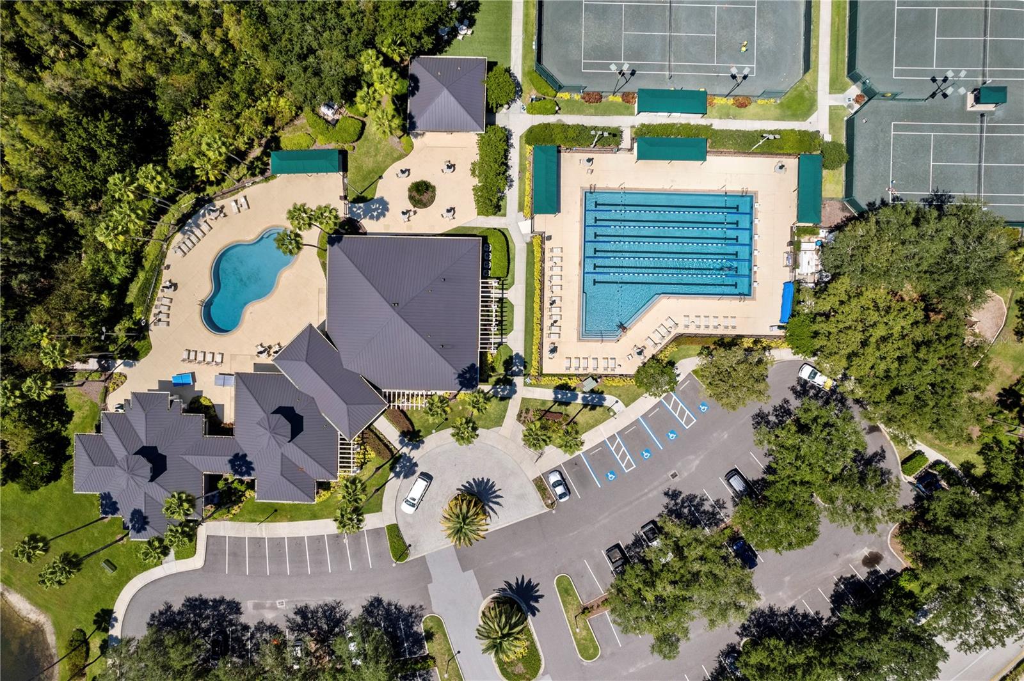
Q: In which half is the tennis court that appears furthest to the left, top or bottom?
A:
top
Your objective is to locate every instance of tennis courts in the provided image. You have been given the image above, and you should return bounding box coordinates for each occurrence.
[536,0,805,99]
[851,96,1024,226]
[855,0,1024,109]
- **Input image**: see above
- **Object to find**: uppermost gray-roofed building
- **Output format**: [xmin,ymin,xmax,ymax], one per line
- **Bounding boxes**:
[408,56,487,135]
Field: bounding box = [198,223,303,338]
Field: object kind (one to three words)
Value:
swimming pool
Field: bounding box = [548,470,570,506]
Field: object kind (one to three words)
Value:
car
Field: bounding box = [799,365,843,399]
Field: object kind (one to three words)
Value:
truck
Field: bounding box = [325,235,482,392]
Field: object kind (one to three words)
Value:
building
